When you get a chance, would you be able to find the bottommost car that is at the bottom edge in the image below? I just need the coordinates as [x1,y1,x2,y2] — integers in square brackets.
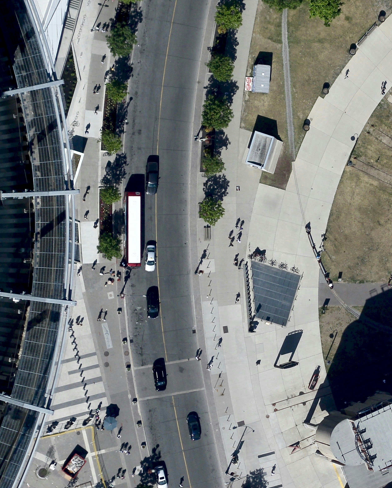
[154,465,168,488]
